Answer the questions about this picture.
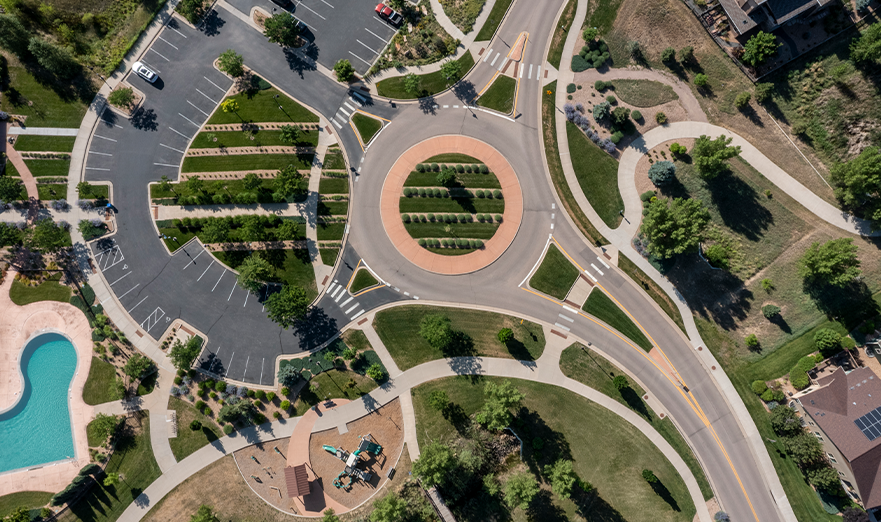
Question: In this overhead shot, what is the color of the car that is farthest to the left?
white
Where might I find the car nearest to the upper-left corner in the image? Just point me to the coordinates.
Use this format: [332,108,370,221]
[129,60,158,83]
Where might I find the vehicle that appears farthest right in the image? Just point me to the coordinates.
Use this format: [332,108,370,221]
[373,1,405,28]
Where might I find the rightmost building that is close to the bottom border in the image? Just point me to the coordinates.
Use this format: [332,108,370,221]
[782,350,881,508]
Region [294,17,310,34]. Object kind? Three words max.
car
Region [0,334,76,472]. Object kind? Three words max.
swimming pool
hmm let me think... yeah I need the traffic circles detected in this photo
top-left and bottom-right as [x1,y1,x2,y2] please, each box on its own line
[356,109,547,300]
